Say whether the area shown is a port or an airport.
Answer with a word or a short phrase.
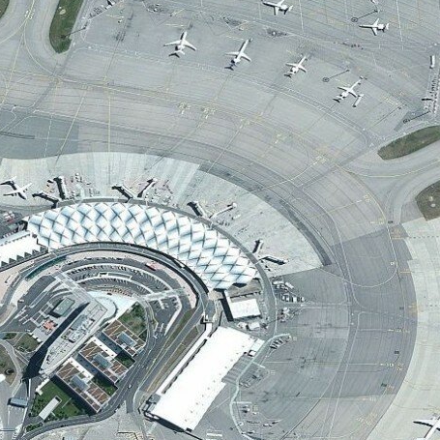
airport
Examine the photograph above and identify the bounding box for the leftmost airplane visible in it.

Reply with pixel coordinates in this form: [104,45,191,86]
[7,179,26,198]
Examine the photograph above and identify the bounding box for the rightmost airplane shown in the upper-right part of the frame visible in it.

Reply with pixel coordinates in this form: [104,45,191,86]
[359,16,391,36]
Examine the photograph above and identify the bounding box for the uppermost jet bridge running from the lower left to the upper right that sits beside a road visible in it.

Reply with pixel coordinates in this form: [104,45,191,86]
[136,176,158,200]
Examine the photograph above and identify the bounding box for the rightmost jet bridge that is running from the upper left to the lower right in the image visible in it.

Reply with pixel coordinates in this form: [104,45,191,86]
[188,198,206,219]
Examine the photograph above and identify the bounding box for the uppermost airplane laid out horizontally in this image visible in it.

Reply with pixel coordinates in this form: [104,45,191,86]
[262,0,296,16]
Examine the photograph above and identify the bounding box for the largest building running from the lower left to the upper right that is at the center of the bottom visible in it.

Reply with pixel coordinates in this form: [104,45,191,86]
[152,327,257,432]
